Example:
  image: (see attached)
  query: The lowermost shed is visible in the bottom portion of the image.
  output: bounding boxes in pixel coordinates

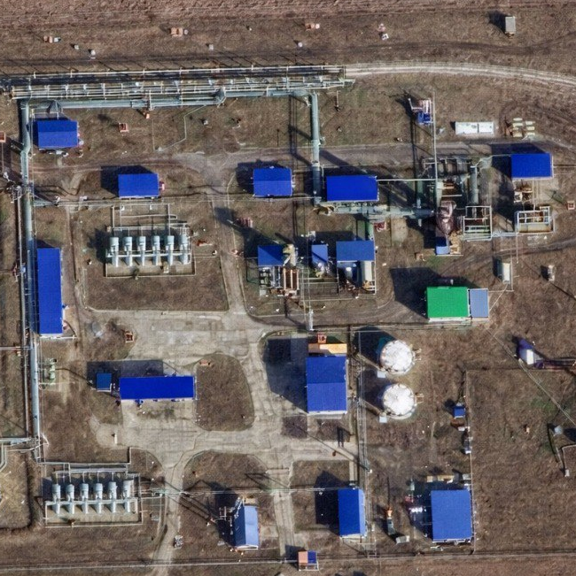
[299,552,318,574]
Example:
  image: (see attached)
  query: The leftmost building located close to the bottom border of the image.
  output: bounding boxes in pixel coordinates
[234,504,259,551]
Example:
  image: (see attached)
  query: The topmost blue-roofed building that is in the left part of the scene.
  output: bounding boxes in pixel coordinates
[38,120,79,151]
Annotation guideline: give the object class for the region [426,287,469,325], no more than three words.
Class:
building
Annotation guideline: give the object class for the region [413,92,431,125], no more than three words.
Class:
vehicle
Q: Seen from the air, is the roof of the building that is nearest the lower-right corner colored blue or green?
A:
blue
